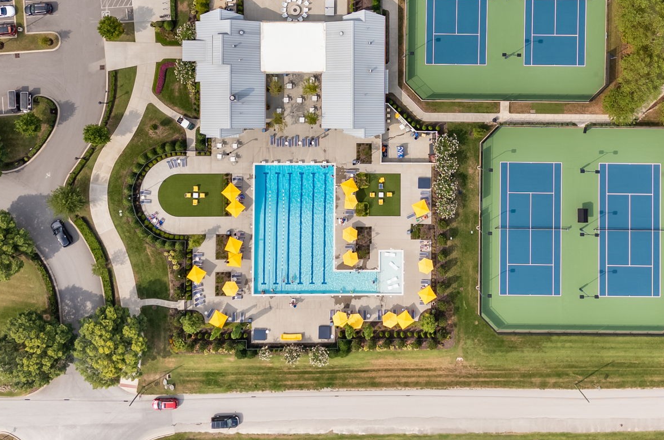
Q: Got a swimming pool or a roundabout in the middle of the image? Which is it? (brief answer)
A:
swimming pool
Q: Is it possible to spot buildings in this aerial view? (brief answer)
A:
Yes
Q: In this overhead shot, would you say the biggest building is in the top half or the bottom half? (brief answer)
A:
top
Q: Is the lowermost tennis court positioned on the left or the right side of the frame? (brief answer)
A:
right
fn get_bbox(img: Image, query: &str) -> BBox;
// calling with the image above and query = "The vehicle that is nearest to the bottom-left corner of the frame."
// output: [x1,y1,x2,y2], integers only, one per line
[153,396,179,411]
